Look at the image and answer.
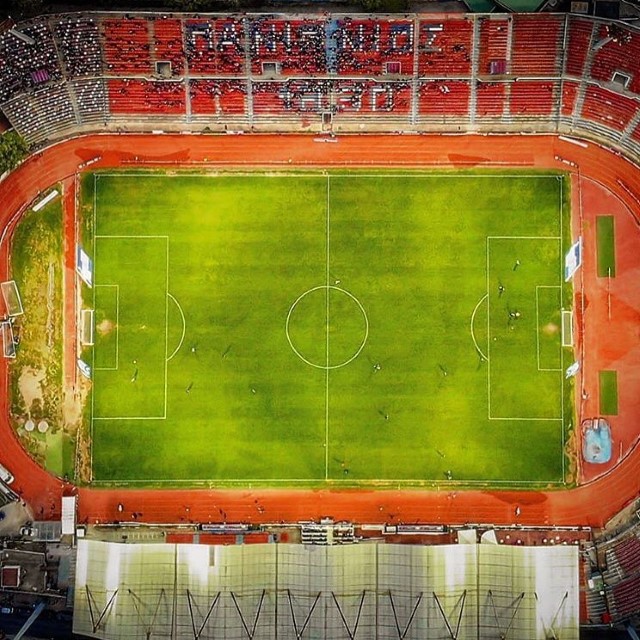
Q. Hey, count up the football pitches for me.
1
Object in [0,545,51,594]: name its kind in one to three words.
building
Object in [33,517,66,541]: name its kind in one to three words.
building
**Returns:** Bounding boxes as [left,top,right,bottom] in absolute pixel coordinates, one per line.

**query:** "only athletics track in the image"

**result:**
[0,134,640,524]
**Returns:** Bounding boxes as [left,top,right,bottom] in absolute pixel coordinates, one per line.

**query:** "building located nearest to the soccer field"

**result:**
[62,493,79,534]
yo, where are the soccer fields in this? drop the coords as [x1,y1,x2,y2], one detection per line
[90,174,566,483]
